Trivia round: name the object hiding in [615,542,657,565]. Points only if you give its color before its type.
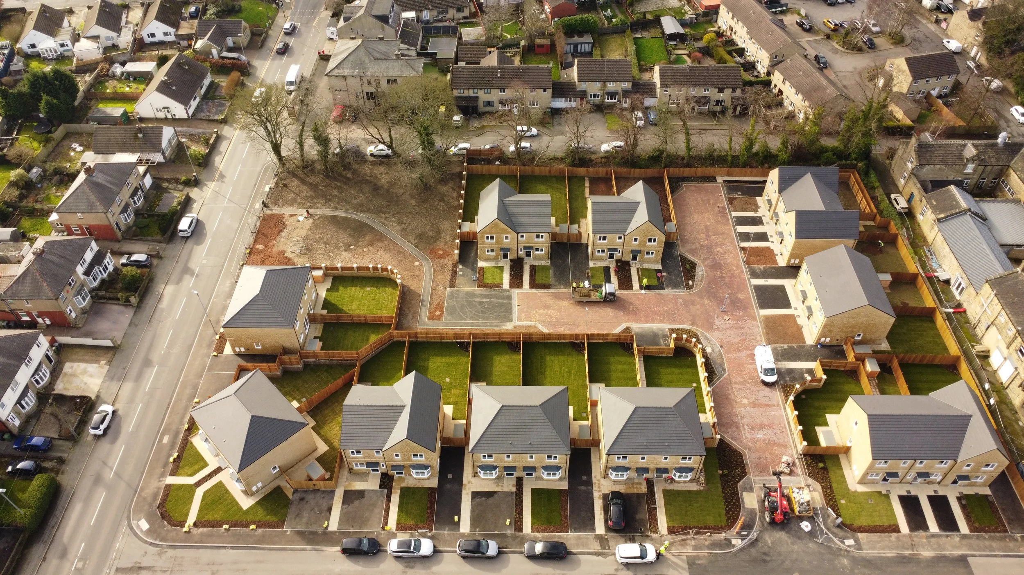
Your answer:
white car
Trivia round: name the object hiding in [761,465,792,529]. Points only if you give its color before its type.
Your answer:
red work vehicle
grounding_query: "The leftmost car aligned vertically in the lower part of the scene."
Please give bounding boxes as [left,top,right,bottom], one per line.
[607,491,626,530]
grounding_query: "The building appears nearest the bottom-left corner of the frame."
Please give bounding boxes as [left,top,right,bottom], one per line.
[0,330,58,436]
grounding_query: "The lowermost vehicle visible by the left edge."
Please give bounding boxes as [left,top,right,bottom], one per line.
[5,458,44,477]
